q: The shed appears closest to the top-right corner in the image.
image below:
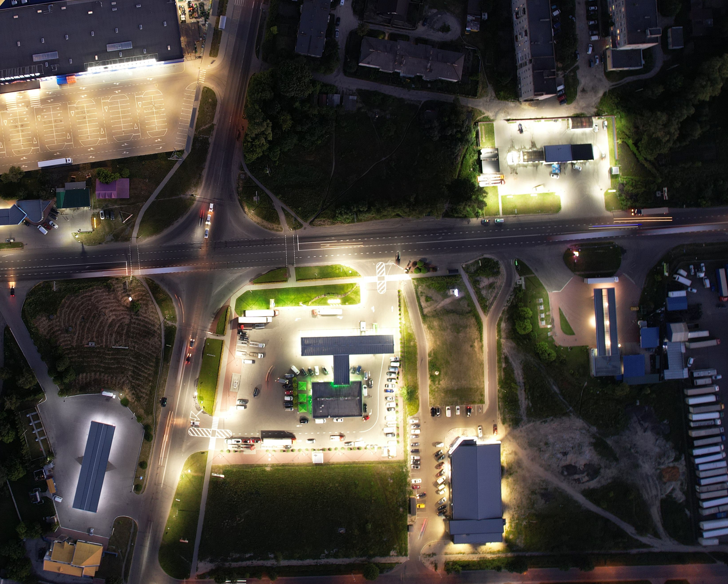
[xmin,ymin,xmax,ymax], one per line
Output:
[667,26,684,49]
